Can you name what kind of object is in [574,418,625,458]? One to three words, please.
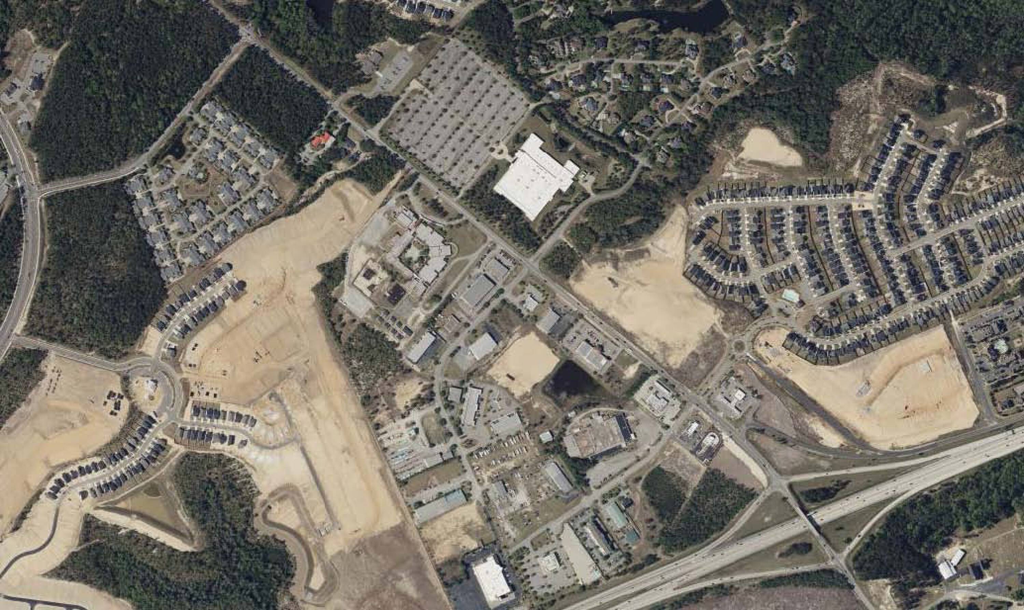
building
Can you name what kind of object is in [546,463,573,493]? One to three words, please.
building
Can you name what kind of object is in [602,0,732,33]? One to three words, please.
pond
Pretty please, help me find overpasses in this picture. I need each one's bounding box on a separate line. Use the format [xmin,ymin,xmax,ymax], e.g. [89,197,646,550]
[775,481,849,574]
